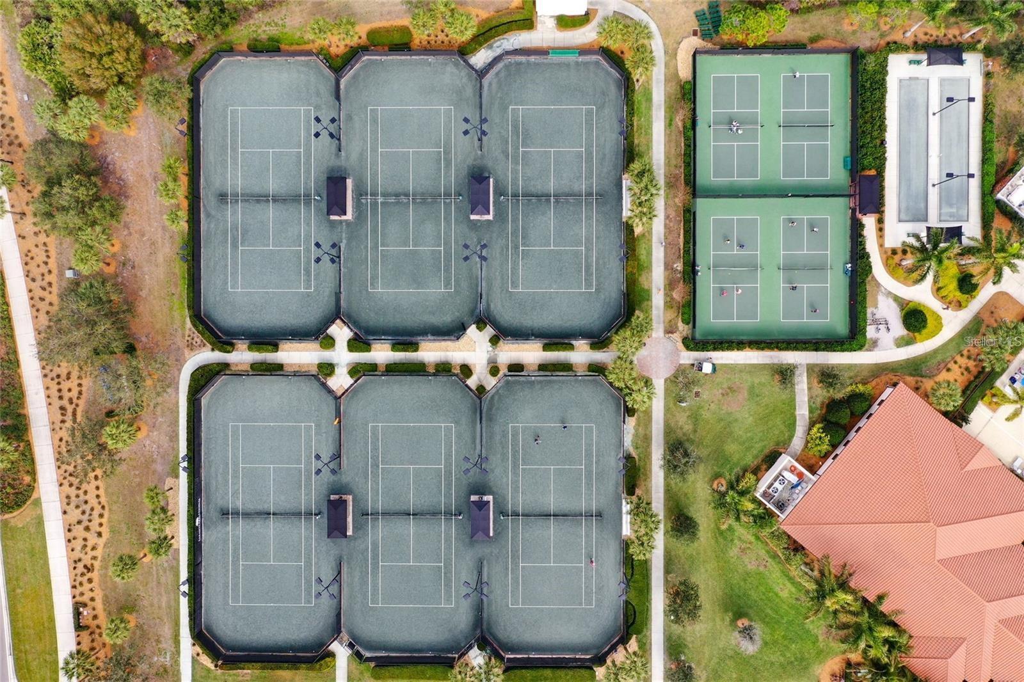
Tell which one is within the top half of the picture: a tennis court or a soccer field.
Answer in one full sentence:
You can see a tennis court within the top half of the picture.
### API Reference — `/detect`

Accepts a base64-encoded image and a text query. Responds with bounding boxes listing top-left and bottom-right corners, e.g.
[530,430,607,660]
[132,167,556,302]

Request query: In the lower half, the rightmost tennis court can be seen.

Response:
[481,377,623,655]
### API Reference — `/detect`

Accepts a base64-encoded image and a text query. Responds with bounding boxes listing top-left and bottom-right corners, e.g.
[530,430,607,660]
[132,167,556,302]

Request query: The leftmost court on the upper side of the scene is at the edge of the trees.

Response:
[202,59,339,338]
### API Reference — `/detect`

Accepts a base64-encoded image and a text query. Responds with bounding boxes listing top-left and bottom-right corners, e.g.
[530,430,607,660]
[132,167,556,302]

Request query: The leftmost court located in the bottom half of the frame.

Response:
[203,376,341,653]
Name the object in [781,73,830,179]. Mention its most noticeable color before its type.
gray sports court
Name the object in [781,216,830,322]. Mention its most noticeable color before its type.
gray sports court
